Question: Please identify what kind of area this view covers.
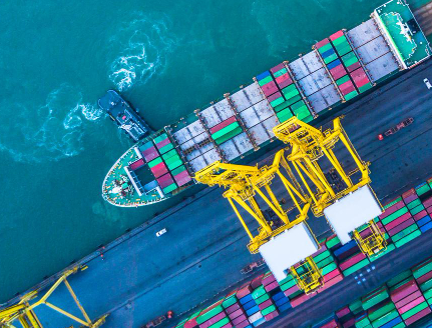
port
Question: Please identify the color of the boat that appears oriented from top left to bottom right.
blue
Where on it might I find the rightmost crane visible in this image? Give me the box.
[272,112,391,264]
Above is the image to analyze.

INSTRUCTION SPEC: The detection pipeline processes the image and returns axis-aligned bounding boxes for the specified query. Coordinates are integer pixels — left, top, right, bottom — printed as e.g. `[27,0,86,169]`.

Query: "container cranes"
[198,145,329,299]
[272,112,391,264]
[0,270,108,328]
